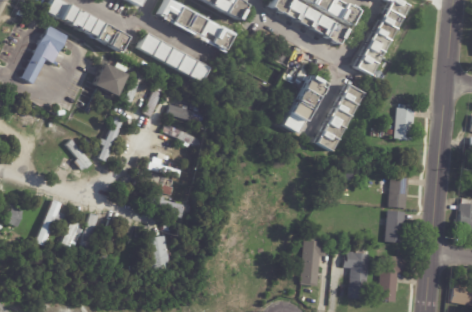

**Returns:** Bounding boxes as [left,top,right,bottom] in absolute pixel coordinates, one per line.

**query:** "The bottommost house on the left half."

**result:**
[154,236,170,268]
